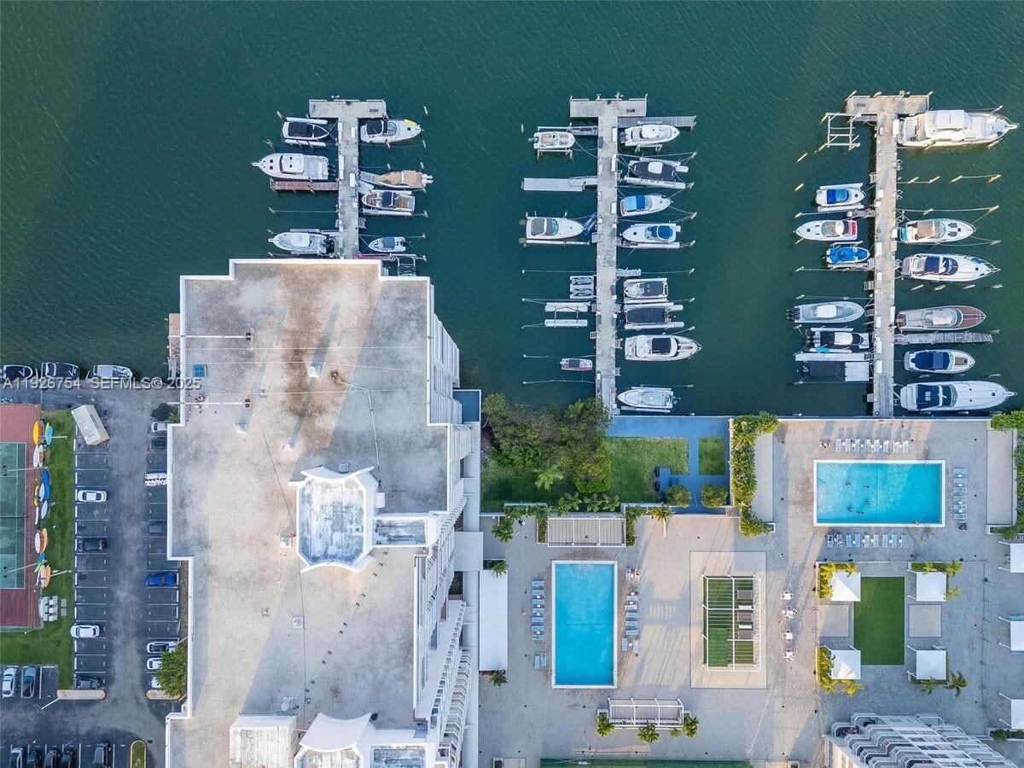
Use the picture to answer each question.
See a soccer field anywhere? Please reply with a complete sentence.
No, the scene contains no soccer field.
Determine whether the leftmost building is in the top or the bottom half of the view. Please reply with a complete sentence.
The leftmost building is in the bottom half of the image.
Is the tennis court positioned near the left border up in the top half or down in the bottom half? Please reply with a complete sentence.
The tennis court positioned near the left border sits in the bottom half of the picture.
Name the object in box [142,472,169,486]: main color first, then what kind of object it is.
white vehicle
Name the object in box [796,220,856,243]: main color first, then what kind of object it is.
white boat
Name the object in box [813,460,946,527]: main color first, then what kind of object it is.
blue swimming pool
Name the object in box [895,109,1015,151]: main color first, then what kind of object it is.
white boat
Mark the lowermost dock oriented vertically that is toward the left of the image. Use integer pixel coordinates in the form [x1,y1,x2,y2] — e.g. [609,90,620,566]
[166,313,181,380]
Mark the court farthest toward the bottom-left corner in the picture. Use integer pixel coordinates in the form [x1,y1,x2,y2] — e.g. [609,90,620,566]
[0,404,43,634]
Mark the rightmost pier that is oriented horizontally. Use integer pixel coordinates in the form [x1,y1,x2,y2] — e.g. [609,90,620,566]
[895,333,993,346]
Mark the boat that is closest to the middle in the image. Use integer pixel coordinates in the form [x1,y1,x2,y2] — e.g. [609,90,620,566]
[556,359,592,372]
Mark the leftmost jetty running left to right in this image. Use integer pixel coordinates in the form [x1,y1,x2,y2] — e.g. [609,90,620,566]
[272,180,338,193]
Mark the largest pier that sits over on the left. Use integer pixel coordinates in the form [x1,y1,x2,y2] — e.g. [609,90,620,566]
[309,92,387,260]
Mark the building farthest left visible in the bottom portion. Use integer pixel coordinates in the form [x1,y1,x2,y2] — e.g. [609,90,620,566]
[167,260,474,768]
